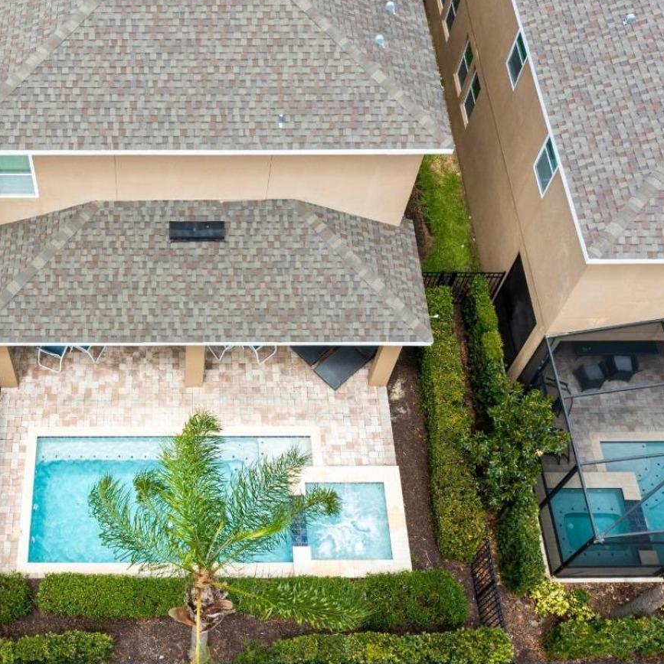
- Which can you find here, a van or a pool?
pool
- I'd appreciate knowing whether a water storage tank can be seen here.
No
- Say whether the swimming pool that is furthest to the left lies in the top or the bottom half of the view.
bottom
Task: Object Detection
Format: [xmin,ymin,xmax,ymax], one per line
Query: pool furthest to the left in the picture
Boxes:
[18,428,322,574]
